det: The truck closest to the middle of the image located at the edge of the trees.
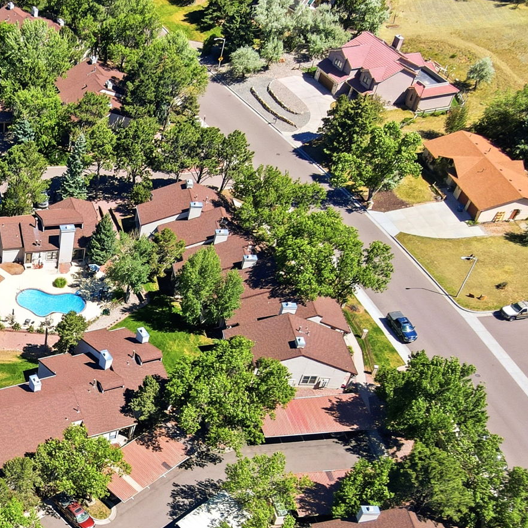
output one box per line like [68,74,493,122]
[386,310,421,344]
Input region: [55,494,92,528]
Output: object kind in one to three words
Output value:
car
